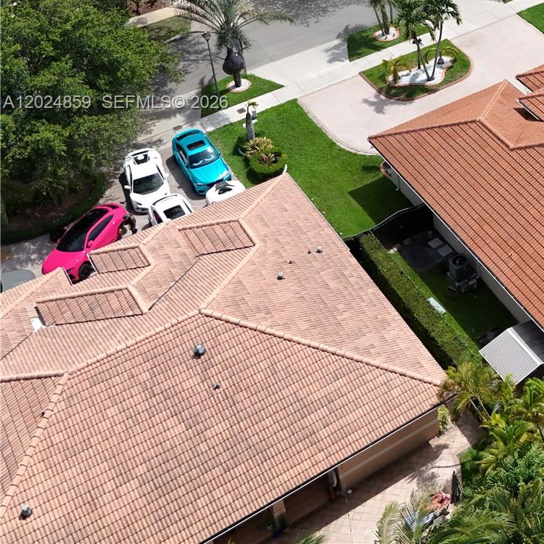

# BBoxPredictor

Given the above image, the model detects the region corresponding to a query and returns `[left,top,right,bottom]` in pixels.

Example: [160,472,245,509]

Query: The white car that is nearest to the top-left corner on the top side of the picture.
[125,148,172,212]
